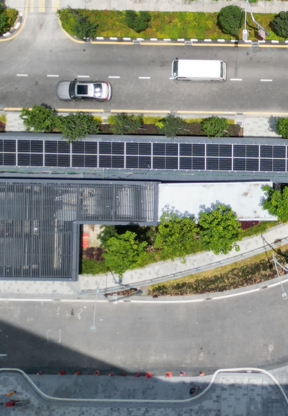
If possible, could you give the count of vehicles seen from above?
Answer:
two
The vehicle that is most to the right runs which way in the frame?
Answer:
horizontally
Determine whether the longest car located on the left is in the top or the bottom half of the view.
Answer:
top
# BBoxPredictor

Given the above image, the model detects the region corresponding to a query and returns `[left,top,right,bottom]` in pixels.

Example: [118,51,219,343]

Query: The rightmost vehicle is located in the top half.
[169,55,229,81]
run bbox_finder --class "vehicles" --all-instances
[54,77,112,102]
[169,55,229,81]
